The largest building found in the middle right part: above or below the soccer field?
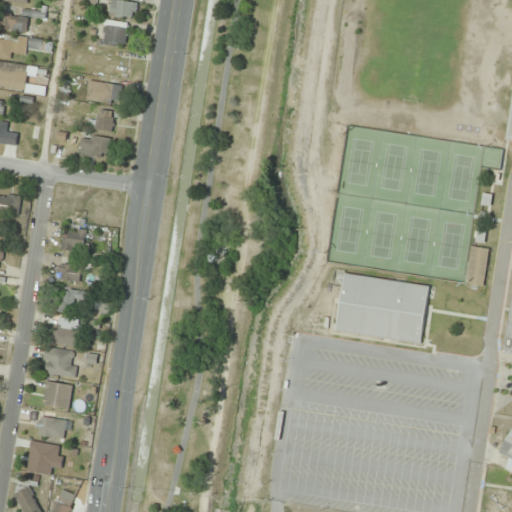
below it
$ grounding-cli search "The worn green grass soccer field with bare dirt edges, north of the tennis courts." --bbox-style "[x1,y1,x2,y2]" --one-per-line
[362,0,465,107]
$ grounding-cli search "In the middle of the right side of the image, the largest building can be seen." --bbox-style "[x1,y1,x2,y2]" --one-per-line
[336,272,432,345]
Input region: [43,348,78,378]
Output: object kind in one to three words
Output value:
house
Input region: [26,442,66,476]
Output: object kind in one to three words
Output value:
house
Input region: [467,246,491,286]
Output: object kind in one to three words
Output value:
building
